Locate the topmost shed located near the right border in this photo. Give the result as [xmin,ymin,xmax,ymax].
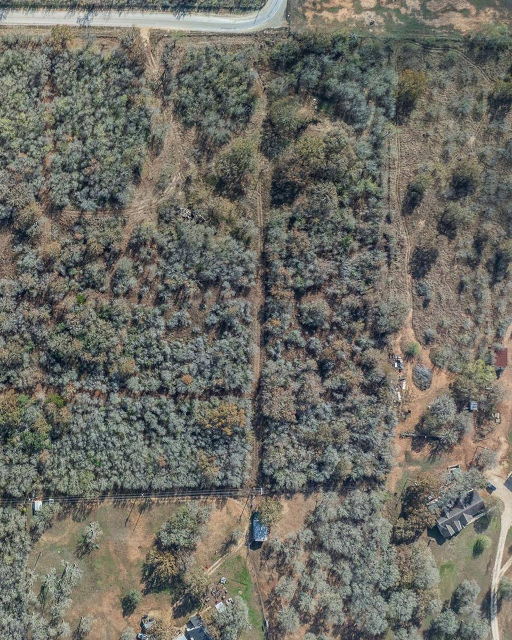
[492,348,508,367]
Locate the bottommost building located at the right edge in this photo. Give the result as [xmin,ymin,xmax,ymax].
[436,490,489,535]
